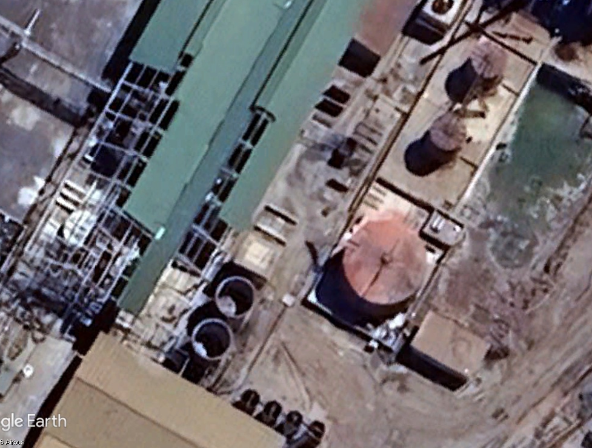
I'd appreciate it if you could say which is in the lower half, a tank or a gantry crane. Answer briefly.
tank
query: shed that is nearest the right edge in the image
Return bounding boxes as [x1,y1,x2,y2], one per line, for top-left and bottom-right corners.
[410,310,490,381]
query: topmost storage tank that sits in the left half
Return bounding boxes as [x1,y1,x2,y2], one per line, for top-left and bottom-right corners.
[207,276,255,326]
